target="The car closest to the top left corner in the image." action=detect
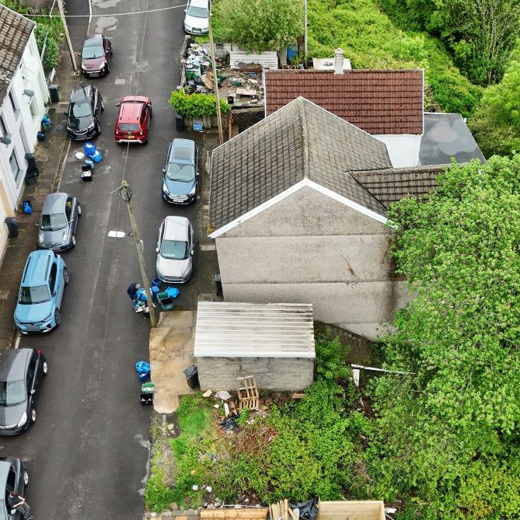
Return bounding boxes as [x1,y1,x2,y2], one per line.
[80,37,114,77]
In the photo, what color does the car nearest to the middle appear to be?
white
